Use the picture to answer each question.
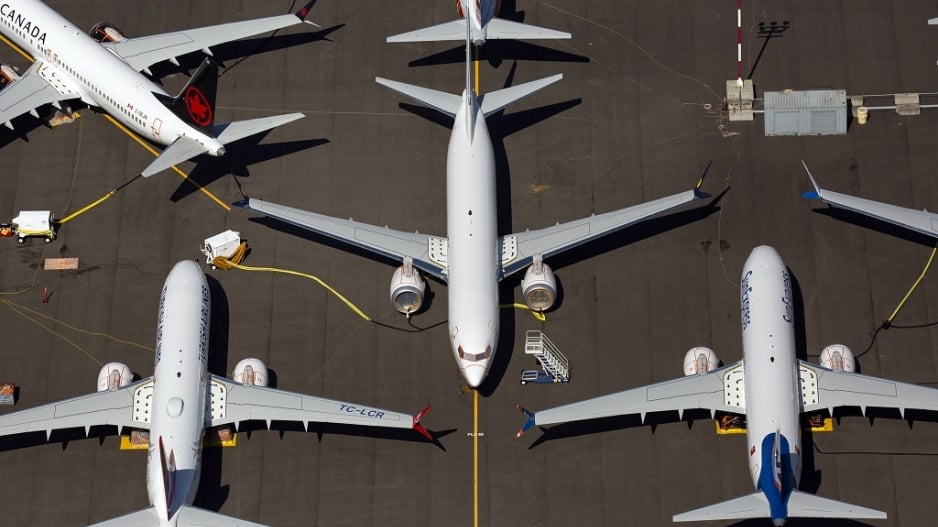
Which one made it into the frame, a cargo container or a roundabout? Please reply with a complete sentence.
The one in the frame is a cargo container.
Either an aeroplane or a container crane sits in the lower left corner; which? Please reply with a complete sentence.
It is an aeroplane that can be seen in the lower left corner.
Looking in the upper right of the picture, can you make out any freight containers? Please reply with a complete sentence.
Yes, a freight container appears in the upper right of the picture.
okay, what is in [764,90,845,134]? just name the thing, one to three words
shipping container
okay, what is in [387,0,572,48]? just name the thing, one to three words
airplane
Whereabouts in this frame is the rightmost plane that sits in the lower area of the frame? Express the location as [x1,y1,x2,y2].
[518,246,938,527]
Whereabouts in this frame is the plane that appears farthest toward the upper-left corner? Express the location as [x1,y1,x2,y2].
[0,0,321,177]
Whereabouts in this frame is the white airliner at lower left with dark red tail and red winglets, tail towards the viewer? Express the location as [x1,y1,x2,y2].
[0,259,431,527]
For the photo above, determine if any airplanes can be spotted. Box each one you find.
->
[518,246,938,527]
[0,0,321,177]
[928,16,938,22]
[0,259,431,527]
[233,3,711,390]
[387,0,572,48]
[803,162,938,237]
